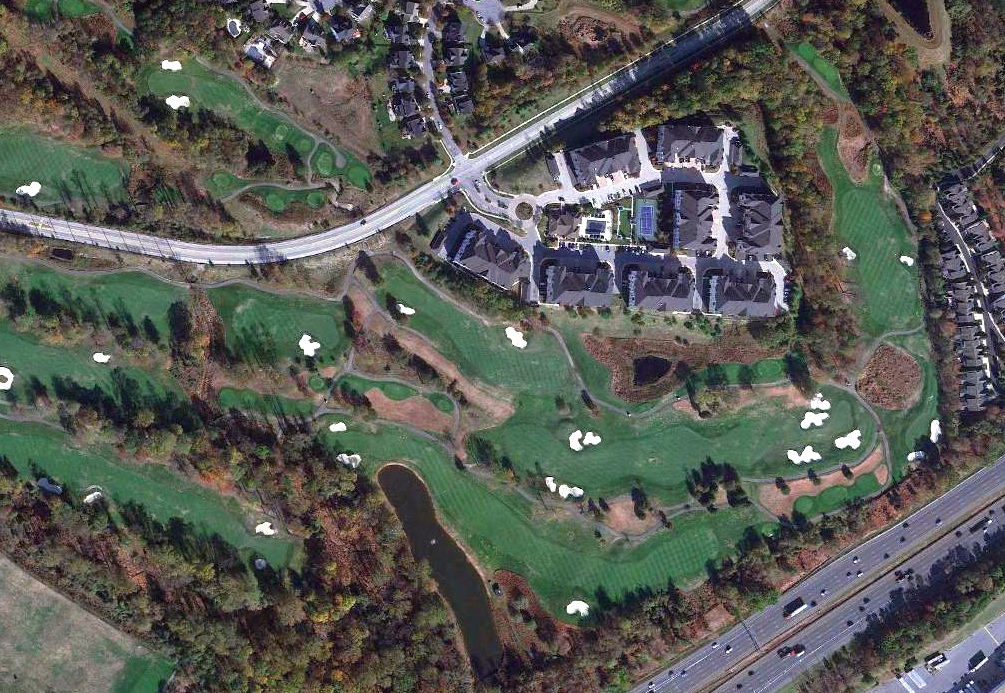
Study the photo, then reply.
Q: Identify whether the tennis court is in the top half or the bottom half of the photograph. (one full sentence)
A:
It is in the top half that the tennis court appears.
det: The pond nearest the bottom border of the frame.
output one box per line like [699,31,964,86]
[376,463,503,687]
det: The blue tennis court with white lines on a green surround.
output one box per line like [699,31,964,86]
[635,198,658,240]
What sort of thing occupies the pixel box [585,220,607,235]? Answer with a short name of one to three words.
swimming pool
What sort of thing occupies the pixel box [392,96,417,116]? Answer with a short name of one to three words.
house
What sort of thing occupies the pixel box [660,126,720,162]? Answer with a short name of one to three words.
building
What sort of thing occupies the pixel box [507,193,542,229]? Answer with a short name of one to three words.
roundabout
